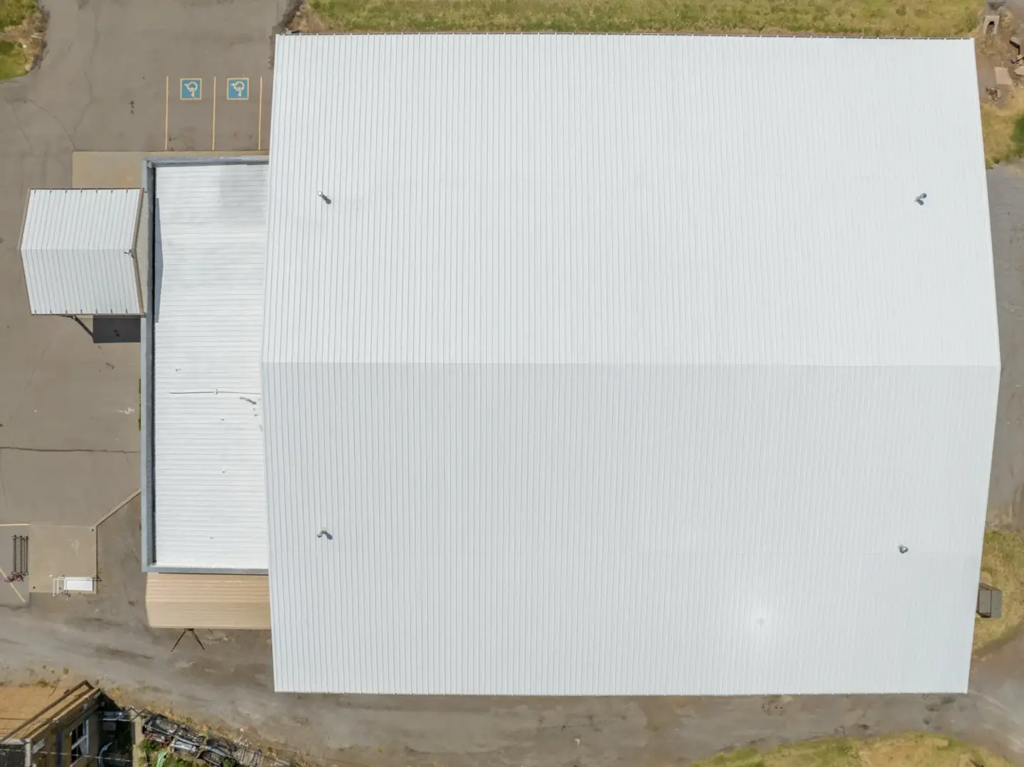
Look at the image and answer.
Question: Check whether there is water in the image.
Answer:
No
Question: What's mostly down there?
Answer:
buildings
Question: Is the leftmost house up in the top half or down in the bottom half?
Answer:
bottom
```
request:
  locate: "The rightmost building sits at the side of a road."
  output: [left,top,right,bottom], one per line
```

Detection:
[260,33,1003,694]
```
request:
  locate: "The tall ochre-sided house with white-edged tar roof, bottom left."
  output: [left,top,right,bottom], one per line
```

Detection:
[0,681,100,767]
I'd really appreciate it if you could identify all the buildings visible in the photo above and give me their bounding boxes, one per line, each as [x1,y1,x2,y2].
[0,681,100,767]
[260,33,1003,694]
